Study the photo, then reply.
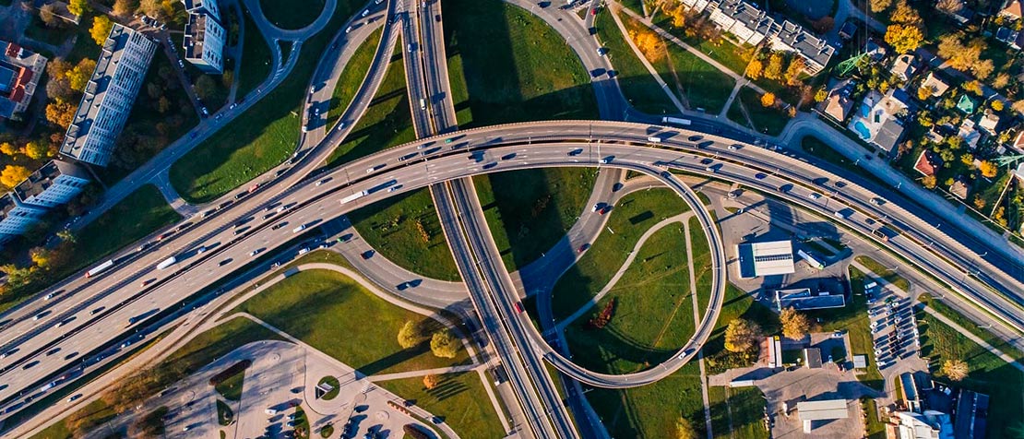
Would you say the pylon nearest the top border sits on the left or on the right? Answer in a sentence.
The pylon nearest the top border is on the right side of the image.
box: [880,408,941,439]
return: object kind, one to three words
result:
building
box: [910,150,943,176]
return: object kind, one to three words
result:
house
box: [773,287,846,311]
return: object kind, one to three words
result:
building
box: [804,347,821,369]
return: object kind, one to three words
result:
shed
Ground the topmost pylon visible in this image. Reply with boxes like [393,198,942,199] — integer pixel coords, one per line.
[832,55,872,77]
